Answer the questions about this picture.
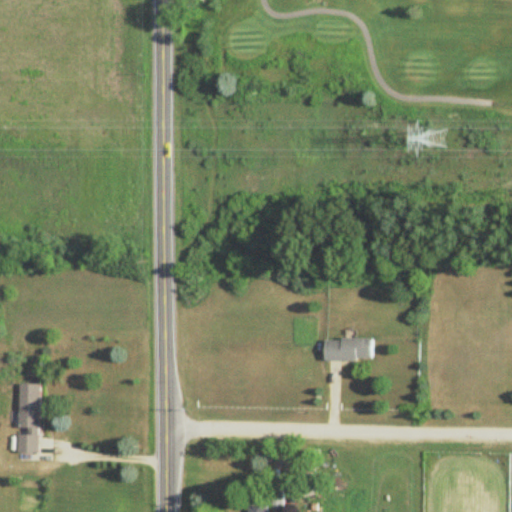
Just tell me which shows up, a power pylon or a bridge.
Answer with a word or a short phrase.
power pylon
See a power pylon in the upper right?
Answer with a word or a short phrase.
Yes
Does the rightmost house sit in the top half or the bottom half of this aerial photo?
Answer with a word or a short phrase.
bottom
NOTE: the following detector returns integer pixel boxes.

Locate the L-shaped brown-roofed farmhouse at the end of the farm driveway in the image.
[18,384,44,455]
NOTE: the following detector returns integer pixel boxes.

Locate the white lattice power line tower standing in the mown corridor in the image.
[408,120,448,158]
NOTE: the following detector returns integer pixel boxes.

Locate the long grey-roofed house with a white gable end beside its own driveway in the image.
[322,332,374,360]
